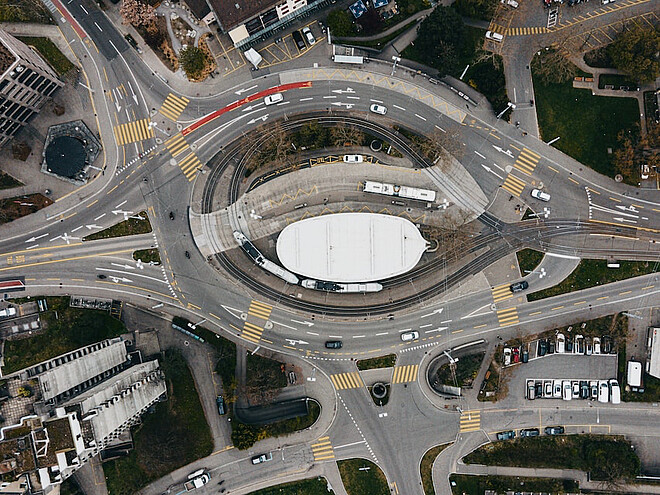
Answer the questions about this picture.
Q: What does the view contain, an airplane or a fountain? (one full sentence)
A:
There is a fountain in the scene.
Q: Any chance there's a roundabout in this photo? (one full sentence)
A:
Yes, the picture does show a roundabout.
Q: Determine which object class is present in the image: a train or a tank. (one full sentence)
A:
This aerial view contains a train.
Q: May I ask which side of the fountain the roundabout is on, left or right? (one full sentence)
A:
Relative to the fountain, the roundabout is on the right.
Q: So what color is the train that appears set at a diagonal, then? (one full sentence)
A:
The color of the train that appears set at a diagonal is white.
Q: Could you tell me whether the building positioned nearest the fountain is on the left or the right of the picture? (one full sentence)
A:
The building positioned nearest the fountain sits on the left side.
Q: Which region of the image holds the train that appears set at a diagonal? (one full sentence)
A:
The train that appears set at a diagonal appears toward the center of the photo.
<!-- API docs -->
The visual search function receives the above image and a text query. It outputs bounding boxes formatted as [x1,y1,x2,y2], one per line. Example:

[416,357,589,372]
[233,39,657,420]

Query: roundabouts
[118,81,590,359]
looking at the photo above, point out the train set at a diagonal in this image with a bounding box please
[229,231,298,285]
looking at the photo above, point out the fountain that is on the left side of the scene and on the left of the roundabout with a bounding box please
[39,119,102,184]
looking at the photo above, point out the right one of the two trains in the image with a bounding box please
[300,279,385,293]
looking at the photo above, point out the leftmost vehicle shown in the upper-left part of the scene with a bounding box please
[124,34,141,53]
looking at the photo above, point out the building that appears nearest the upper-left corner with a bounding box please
[0,15,64,151]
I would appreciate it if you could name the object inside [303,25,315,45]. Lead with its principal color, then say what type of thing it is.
white vehicle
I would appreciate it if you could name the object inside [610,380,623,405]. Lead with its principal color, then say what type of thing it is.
white vehicle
